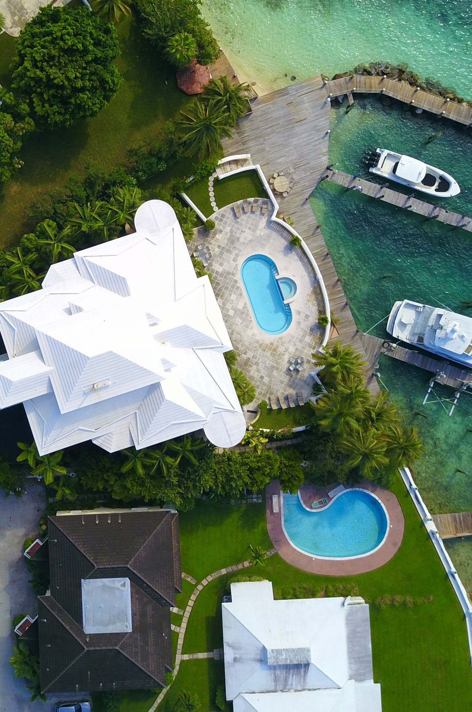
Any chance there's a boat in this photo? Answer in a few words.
Yes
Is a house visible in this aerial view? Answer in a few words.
Yes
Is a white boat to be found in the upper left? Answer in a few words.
No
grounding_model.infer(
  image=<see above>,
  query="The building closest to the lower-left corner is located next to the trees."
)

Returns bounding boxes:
[14,507,182,695]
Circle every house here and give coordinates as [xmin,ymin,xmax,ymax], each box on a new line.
[222,579,373,700]
[0,198,248,457]
[14,507,182,695]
